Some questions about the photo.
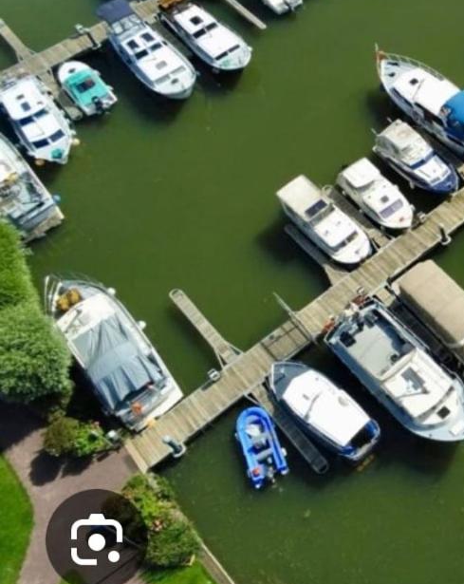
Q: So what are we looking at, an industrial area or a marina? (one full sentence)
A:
What you see here is a marina.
